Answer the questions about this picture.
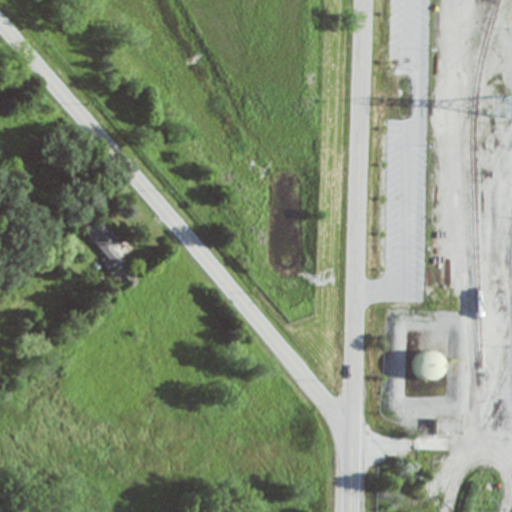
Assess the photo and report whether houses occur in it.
Yes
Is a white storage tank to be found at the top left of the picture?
No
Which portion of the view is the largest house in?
left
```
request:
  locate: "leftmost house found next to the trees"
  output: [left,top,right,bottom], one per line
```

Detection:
[85,218,134,264]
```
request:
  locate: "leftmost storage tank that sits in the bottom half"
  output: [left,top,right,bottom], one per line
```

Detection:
[413,350,448,382]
